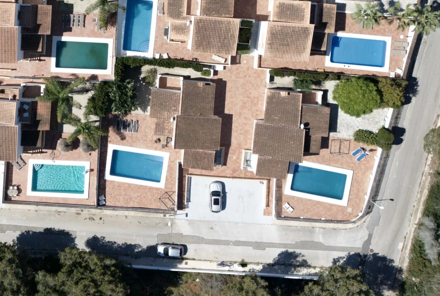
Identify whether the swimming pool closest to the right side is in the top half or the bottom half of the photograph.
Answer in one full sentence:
The swimming pool closest to the right side is in the top half of the image.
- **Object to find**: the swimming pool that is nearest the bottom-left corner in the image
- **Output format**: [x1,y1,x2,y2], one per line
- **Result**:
[27,159,89,199]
